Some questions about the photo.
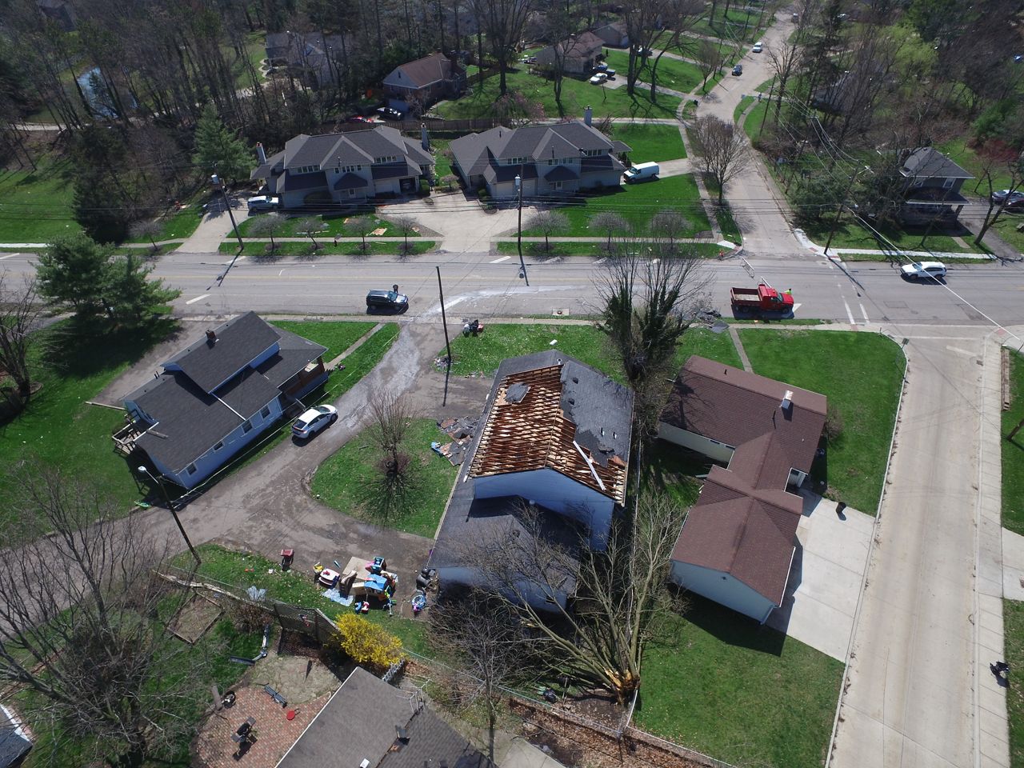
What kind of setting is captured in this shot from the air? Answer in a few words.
residential area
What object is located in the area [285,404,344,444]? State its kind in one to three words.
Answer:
car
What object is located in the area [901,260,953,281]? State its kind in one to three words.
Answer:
car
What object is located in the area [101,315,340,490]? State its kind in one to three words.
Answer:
house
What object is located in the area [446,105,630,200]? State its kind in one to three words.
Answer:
house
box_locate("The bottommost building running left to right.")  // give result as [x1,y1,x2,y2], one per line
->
[273,668,495,768]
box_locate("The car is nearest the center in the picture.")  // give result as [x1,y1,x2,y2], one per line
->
[364,286,412,310]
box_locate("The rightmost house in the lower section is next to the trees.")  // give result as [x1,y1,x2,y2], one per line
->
[659,356,827,622]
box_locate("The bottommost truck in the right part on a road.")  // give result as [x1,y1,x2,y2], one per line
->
[727,287,797,318]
